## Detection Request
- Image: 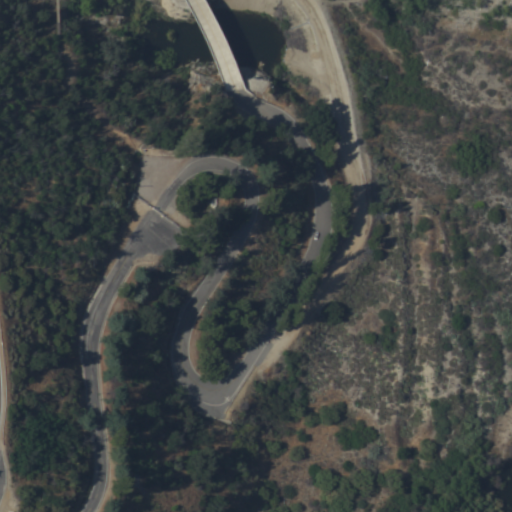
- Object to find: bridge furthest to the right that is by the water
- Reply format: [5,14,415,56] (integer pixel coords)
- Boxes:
[186,0,254,106]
